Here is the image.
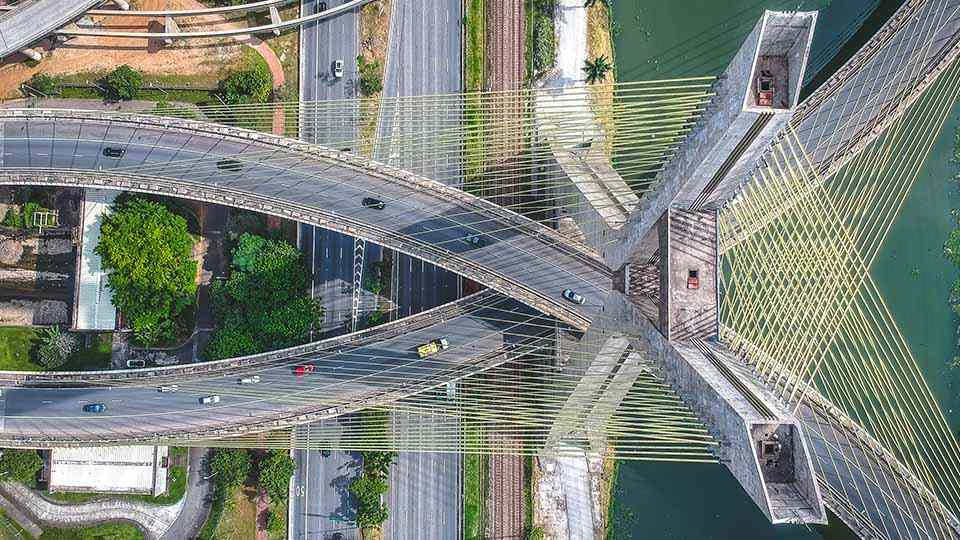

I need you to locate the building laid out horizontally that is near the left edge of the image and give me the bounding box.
[47,445,166,497]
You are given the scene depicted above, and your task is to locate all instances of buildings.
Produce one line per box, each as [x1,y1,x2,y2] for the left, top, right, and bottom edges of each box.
[47,445,166,497]
[71,188,128,330]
